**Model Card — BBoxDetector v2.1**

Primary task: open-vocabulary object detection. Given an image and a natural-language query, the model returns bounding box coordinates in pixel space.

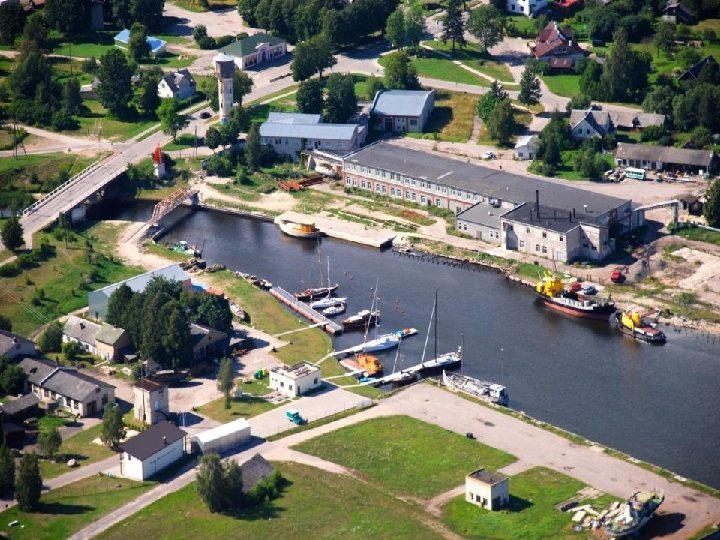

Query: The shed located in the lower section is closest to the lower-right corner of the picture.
[466,468,510,511]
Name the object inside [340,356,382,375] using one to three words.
boat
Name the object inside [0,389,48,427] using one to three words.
shed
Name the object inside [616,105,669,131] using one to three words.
barn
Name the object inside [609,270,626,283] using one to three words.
vehicle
